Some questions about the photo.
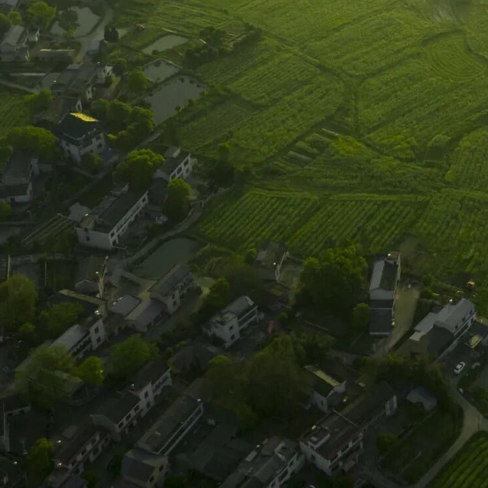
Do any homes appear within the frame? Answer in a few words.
Yes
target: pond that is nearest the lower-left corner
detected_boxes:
[132,238,203,278]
